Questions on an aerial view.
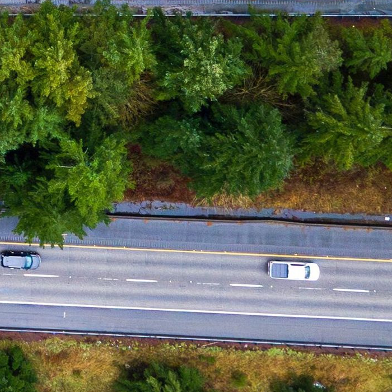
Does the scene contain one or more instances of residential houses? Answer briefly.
No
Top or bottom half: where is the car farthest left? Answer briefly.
bottom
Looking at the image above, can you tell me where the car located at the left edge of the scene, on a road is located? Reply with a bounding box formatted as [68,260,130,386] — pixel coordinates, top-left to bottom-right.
[0,250,39,271]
